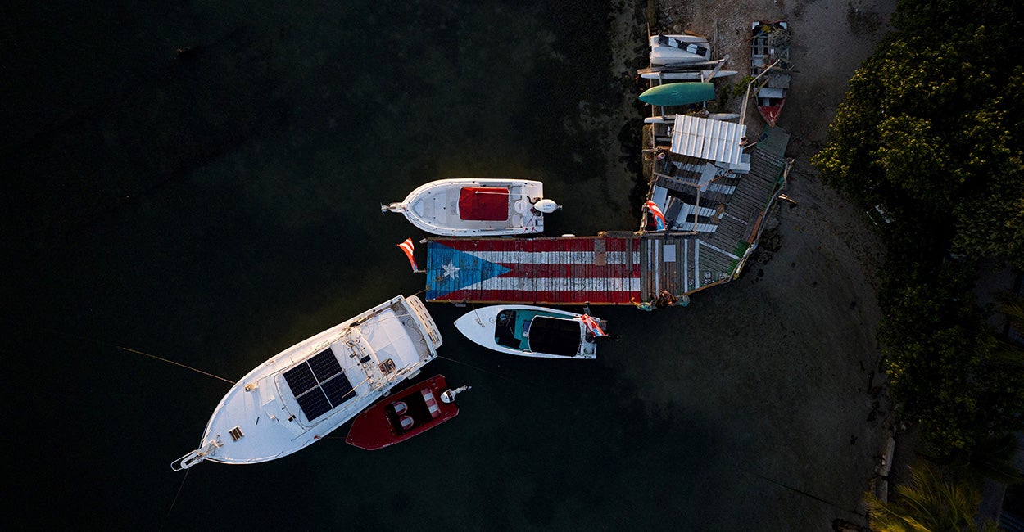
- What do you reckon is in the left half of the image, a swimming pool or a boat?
boat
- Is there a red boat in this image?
Yes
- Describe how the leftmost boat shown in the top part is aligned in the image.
horizontally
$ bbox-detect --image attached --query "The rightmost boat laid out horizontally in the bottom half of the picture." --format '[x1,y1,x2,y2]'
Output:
[454,305,619,359]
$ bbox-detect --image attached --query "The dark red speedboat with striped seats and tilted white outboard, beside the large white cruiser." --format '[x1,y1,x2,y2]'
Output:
[346,374,471,451]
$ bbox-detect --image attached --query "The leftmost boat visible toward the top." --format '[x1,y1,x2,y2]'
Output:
[380,178,561,236]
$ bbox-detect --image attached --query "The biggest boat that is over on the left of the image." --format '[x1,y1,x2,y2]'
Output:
[171,295,443,472]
